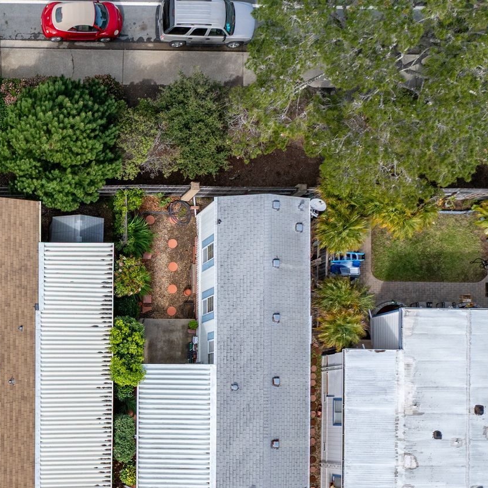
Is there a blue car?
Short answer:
No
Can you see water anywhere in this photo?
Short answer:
No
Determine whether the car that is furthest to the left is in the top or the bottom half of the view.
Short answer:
top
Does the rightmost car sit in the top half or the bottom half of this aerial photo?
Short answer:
top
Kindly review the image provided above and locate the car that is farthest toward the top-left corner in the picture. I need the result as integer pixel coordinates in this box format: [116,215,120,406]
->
[40,0,122,43]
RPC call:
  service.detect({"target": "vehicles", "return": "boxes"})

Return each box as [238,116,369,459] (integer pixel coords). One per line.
[152,0,255,47]
[40,0,122,43]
